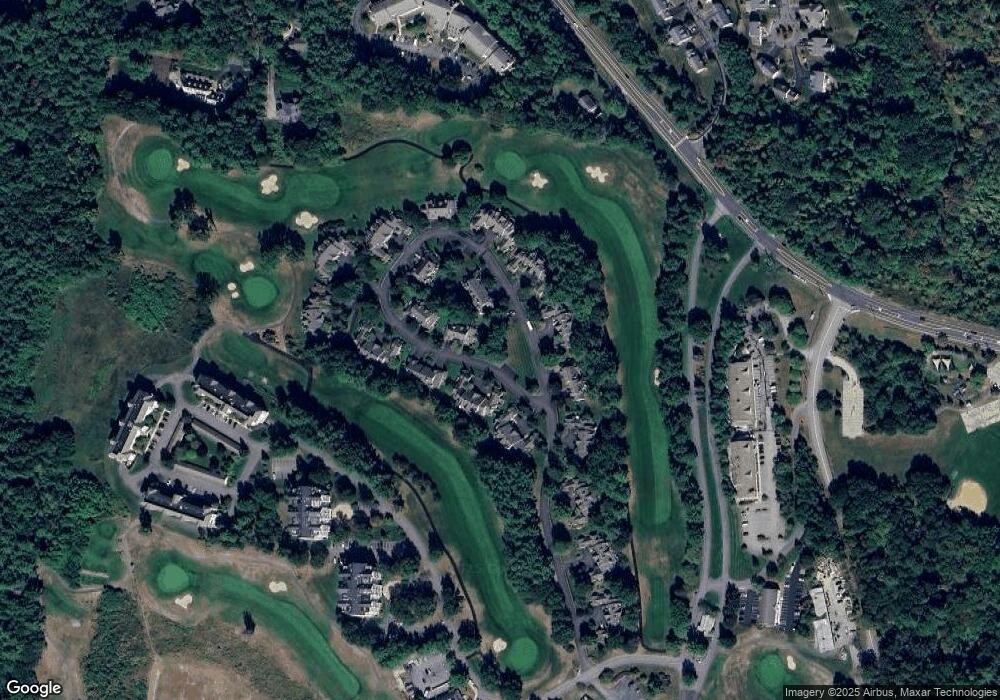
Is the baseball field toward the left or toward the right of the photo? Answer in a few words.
right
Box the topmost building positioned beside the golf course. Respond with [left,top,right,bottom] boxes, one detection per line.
[365,0,519,79]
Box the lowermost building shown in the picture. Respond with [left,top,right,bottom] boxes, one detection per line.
[394,651,465,700]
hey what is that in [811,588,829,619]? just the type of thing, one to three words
shed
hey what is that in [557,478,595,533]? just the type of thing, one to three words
house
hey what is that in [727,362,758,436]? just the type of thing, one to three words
building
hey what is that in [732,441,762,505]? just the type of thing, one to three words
building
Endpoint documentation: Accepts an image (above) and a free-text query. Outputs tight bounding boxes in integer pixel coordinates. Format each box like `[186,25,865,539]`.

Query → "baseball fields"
[817,396,1000,527]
